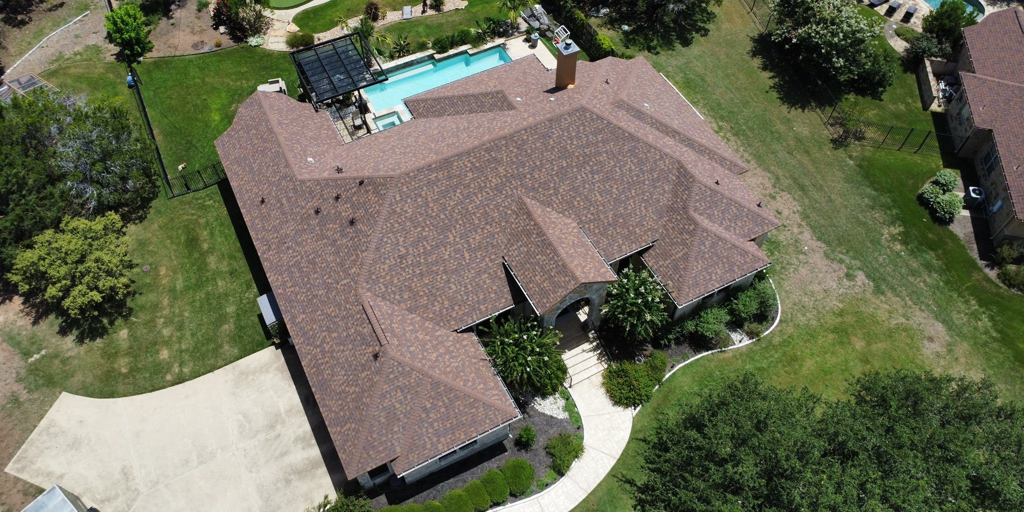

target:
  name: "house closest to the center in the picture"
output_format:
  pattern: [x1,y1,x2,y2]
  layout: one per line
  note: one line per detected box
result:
[214,41,780,491]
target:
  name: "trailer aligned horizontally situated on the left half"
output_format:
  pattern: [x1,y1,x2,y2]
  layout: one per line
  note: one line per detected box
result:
[20,483,90,512]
